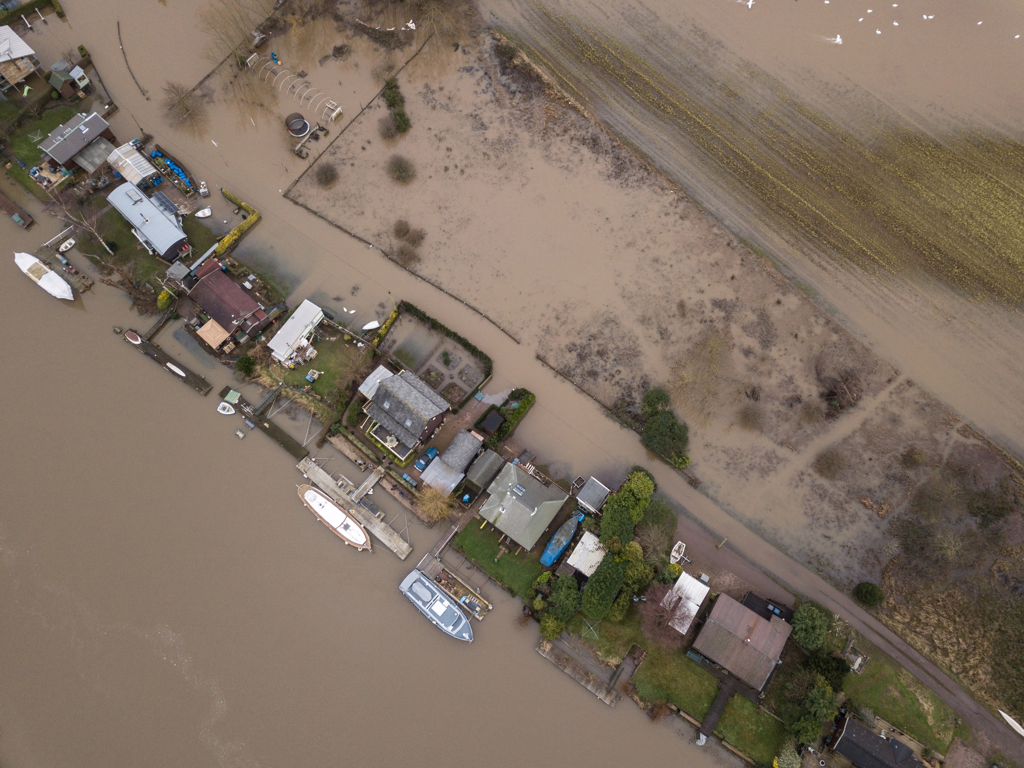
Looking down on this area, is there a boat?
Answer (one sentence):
Yes, there's a boat here.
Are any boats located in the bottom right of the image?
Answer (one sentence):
Yes, looking in the bottom right of the image, one can make out a boat.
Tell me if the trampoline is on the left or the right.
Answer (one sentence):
The trampoline is on the left side of the image.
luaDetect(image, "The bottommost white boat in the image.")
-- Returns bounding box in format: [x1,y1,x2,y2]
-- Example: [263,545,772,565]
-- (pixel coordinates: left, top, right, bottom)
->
[999,710,1024,736]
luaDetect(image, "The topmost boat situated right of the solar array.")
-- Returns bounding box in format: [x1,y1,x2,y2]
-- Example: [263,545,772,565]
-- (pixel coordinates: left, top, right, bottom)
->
[194,206,211,218]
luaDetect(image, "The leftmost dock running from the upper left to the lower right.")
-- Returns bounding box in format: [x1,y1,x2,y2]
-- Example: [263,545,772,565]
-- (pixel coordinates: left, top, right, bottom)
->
[35,249,95,289]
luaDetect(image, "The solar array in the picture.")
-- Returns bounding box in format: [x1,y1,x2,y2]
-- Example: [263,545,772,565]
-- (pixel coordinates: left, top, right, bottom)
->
[152,191,186,216]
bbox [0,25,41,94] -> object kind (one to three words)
house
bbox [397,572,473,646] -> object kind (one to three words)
boat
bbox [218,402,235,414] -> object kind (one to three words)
boat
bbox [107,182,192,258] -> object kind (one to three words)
building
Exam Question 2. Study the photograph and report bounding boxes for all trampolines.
[287,115,310,139]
